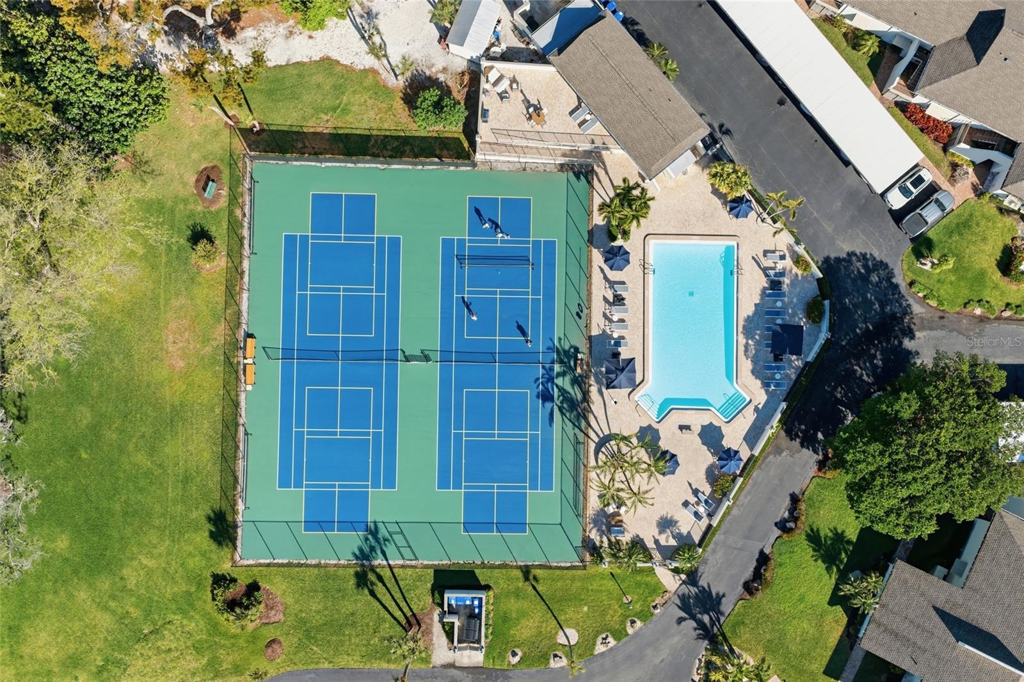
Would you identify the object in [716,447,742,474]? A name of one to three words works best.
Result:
umbrella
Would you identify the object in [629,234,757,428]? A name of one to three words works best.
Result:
swimming pool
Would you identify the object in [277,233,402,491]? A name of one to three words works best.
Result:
tennis court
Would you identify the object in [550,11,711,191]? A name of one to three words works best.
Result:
building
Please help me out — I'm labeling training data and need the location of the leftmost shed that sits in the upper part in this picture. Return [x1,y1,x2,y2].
[446,0,501,65]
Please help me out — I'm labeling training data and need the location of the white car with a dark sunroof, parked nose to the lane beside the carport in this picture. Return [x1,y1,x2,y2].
[883,166,931,210]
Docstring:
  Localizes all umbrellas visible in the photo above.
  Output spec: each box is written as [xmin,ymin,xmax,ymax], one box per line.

[771,324,801,364]
[606,349,634,387]
[603,245,630,271]
[652,448,679,476]
[728,194,753,220]
[716,447,742,474]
